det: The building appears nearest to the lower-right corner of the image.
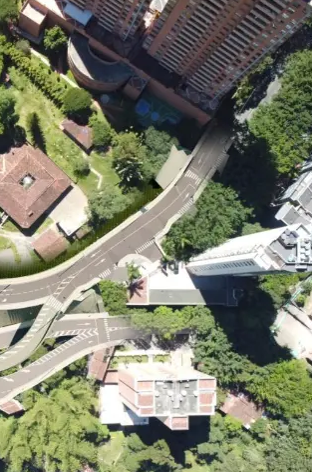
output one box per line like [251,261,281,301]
[221,396,264,425]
